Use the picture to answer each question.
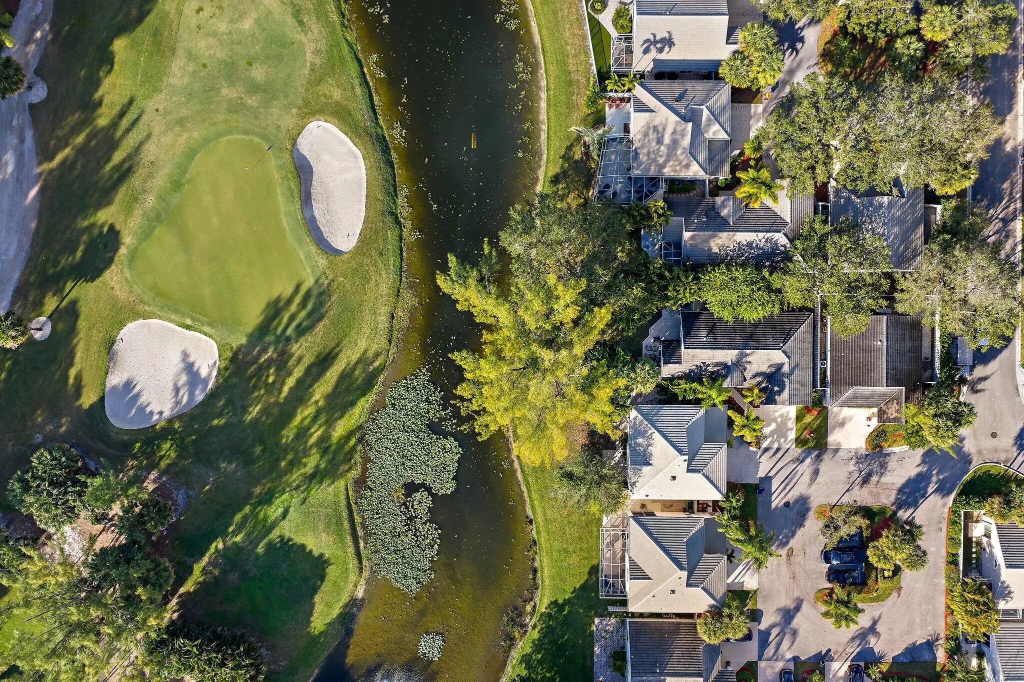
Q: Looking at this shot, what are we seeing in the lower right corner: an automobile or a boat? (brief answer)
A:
automobile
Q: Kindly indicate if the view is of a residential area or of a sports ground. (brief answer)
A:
residential area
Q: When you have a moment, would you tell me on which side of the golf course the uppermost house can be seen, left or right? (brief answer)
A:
right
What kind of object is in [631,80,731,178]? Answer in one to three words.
house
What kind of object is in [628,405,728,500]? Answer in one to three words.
house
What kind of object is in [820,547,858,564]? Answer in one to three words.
car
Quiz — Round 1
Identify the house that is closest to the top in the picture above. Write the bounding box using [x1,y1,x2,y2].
[633,0,742,71]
